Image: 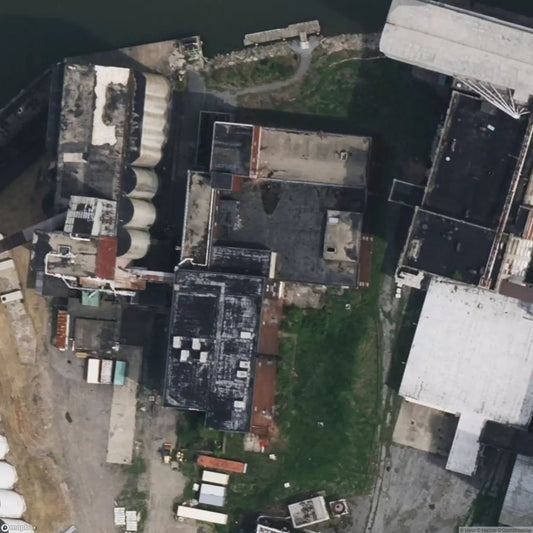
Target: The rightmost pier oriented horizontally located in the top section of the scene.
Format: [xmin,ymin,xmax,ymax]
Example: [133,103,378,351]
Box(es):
[244,20,320,46]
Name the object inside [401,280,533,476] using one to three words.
warehouse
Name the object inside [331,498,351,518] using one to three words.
cooling tower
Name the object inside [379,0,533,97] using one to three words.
building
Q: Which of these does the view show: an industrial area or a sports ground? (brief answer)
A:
industrial area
